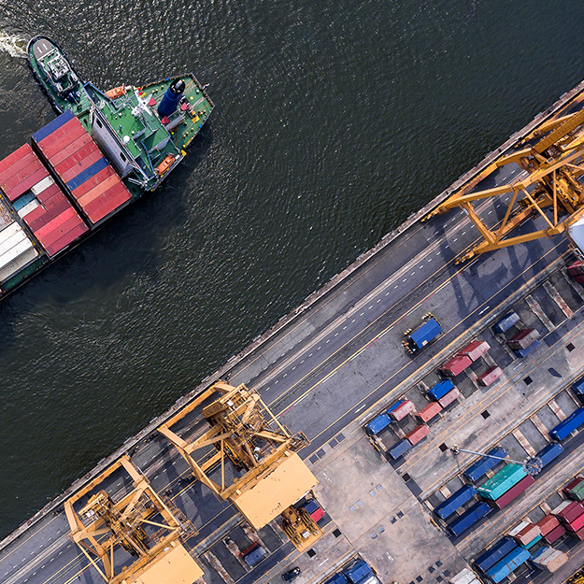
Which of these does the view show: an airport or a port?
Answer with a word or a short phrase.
port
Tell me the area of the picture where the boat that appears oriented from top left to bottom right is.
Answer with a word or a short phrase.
top left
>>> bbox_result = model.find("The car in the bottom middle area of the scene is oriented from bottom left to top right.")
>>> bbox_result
[283,567,299,580]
